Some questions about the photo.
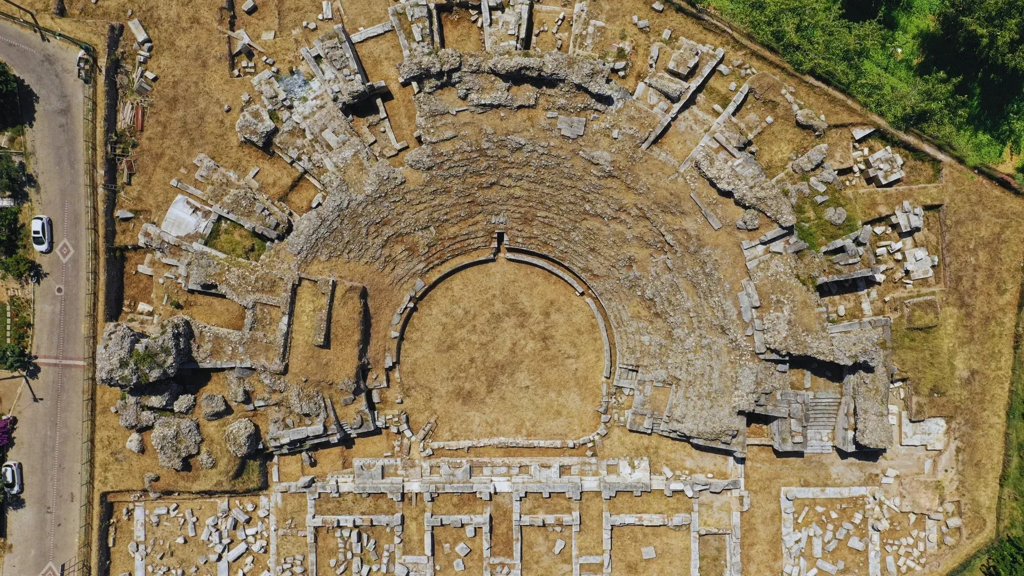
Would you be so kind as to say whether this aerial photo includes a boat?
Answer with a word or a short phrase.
No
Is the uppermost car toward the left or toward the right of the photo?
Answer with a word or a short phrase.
left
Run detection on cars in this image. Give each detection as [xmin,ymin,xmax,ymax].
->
[27,215,51,254]
[0,460,22,496]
